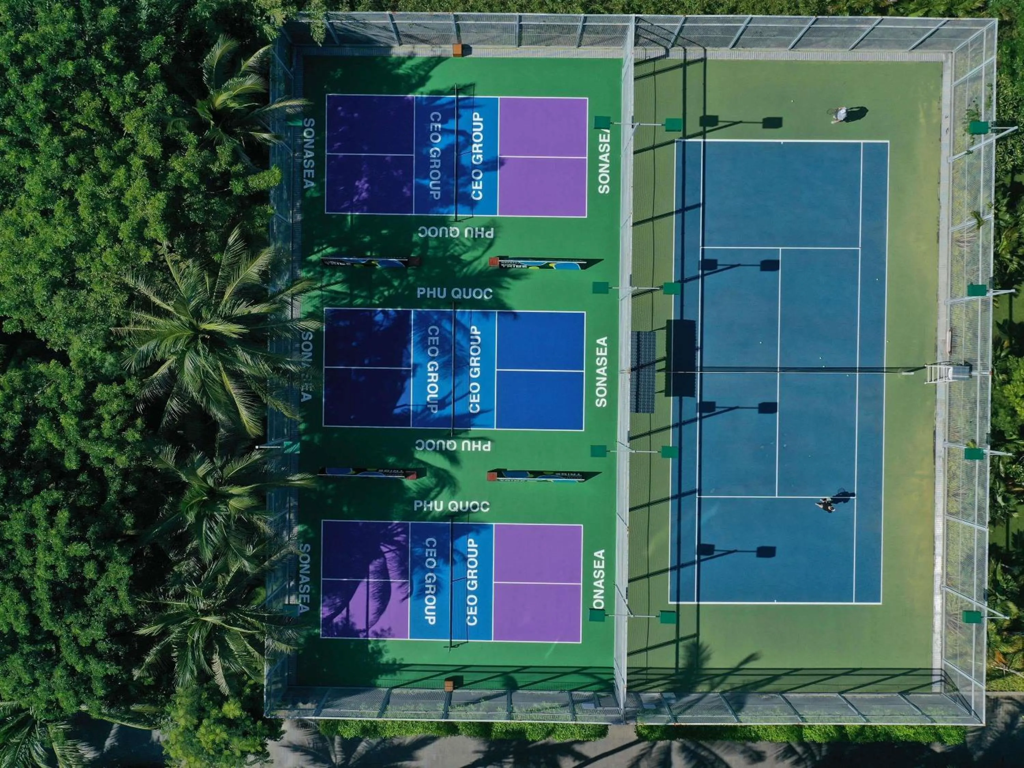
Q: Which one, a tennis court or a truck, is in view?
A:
tennis court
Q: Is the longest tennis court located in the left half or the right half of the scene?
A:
right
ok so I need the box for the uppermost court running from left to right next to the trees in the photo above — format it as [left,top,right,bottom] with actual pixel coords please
[303,94,611,238]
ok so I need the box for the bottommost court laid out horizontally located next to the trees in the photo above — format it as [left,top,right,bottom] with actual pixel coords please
[299,501,605,644]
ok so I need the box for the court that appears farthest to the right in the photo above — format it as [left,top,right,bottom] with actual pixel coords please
[615,59,943,693]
